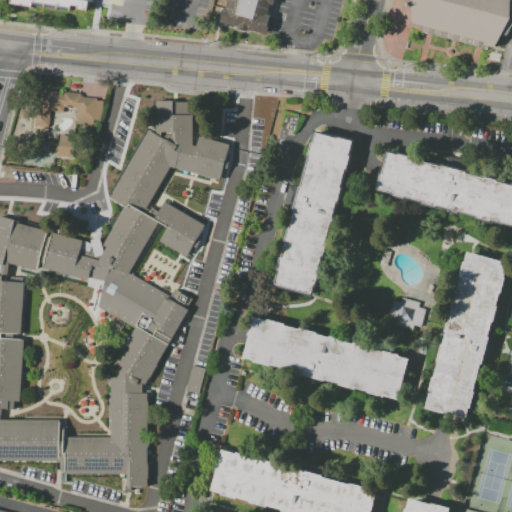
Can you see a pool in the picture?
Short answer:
Yes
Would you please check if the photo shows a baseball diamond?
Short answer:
No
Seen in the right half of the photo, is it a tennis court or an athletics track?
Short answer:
tennis court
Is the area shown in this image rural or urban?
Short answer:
urban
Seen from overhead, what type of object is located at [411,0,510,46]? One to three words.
building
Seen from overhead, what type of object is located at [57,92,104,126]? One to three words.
house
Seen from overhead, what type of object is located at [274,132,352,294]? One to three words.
building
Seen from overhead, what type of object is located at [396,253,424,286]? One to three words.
swimming pool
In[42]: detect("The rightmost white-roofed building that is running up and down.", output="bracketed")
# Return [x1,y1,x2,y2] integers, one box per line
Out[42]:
[424,251,504,418]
